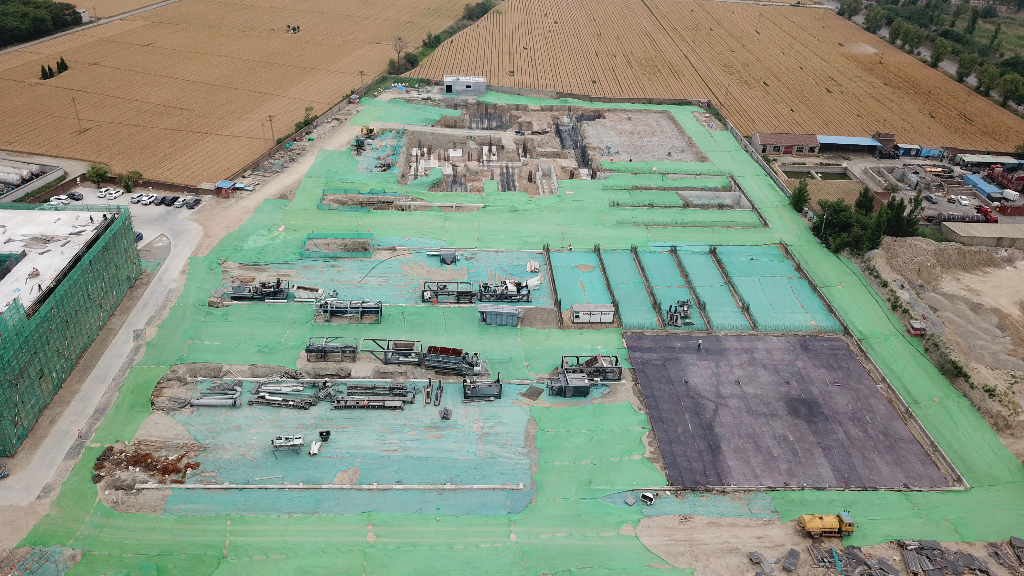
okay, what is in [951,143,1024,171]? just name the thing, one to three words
shed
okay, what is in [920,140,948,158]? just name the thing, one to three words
building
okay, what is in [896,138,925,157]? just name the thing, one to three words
building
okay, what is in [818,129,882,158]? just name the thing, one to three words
shed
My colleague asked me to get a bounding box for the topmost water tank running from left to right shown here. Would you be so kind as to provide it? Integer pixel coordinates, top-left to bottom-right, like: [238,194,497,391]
[775,164,860,182]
